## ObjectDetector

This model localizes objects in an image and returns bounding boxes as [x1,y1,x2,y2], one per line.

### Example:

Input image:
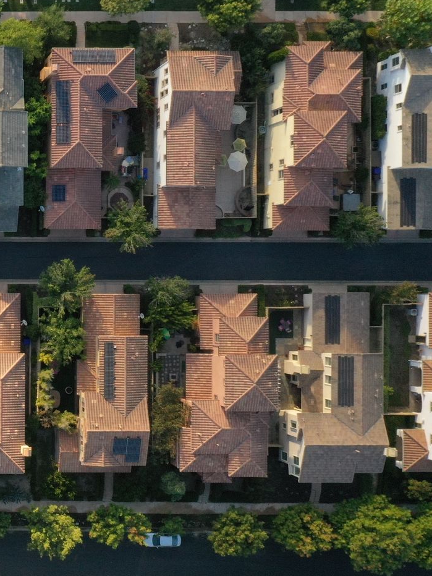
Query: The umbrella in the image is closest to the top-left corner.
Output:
[122,155,137,169]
